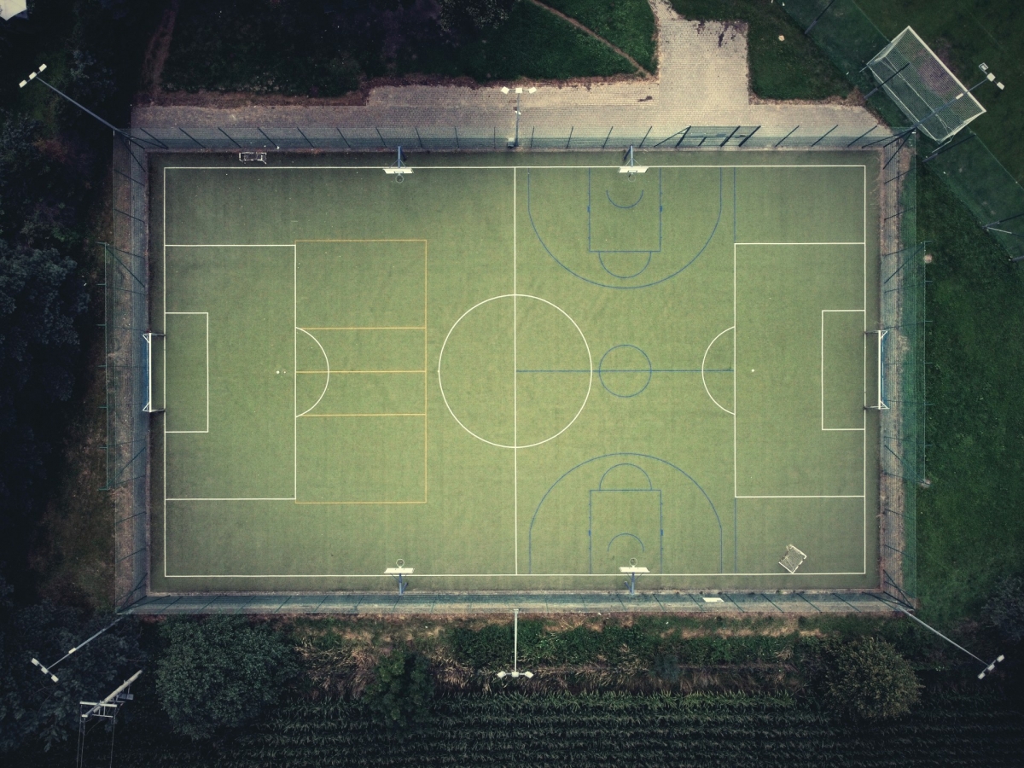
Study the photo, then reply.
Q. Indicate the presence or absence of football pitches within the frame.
Yes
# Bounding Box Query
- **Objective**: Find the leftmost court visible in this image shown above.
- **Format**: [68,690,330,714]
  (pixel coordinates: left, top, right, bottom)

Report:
[296,239,427,504]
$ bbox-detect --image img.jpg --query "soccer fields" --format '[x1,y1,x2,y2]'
[146,148,884,595]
